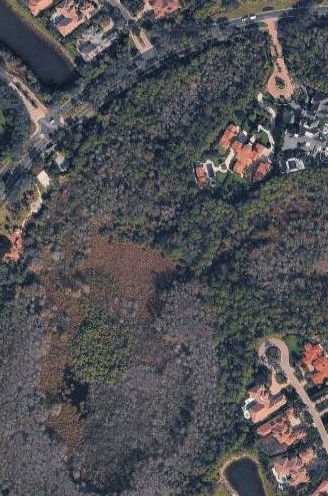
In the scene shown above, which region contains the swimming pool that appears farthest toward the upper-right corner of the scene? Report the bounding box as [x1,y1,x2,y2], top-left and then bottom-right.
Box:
[286,158,302,171]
